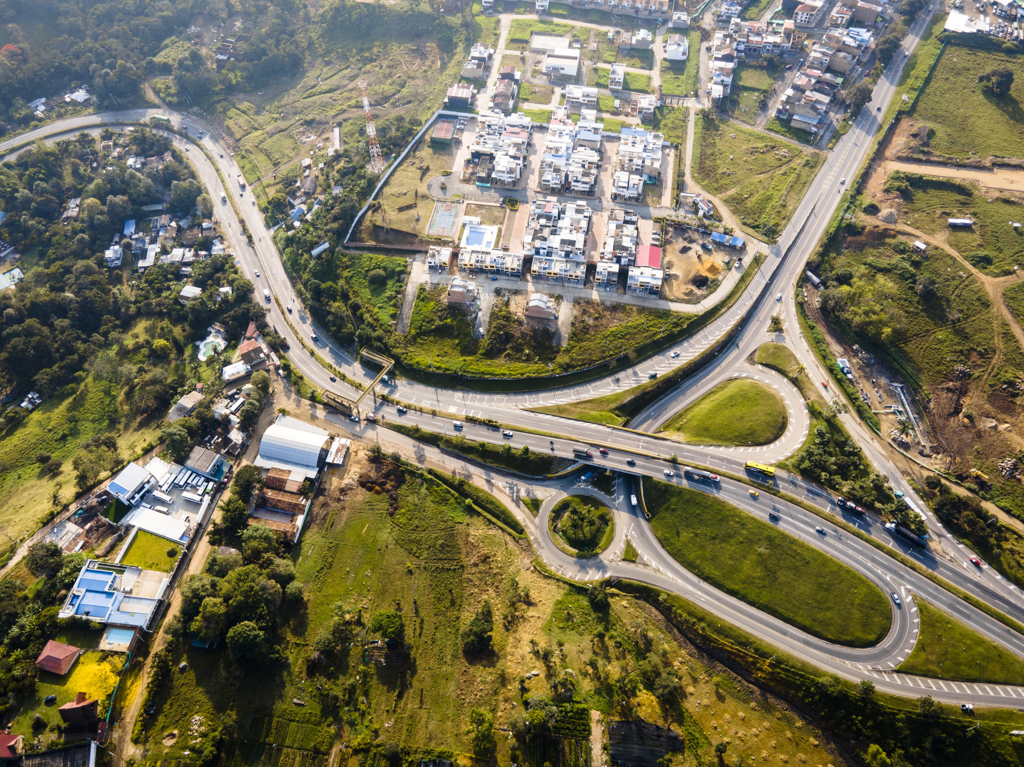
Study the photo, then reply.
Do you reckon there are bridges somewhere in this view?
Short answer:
Yes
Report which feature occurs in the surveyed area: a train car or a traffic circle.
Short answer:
traffic circle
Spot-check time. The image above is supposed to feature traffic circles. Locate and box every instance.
[536,486,627,570]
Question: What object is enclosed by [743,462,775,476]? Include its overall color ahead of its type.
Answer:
yellow vehicle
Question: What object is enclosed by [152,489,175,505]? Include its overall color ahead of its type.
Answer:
white vehicle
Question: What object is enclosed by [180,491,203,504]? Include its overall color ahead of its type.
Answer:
white vehicle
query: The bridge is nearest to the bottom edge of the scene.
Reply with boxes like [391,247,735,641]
[547,417,670,520]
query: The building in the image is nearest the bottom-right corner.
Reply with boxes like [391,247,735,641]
[609,719,684,767]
